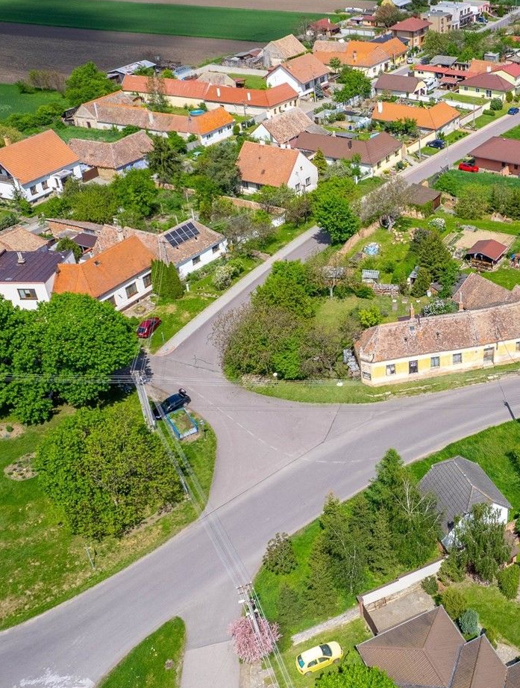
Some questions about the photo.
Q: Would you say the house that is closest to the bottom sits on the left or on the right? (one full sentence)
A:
The house that is closest to the bottom appears in the right half of the scene.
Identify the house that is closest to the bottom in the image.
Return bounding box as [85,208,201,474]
[354,604,520,688]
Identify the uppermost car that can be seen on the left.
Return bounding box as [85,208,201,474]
[136,317,160,334]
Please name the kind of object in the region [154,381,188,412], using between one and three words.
car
